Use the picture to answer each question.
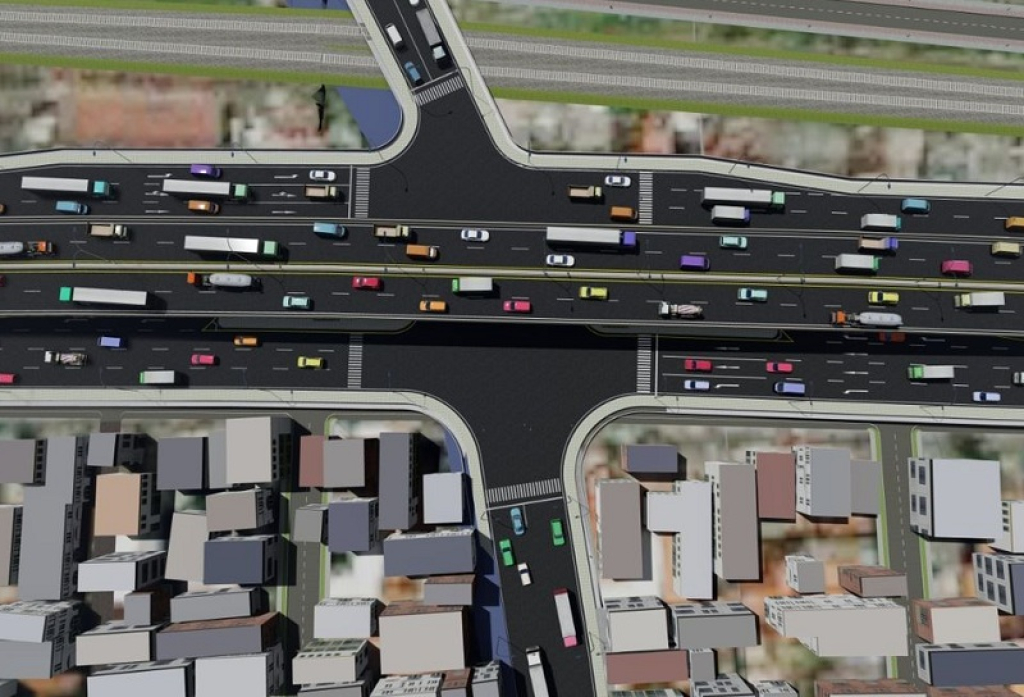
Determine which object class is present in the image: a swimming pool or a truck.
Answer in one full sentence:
Looking from above, you can make out a truck.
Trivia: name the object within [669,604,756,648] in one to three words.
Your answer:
building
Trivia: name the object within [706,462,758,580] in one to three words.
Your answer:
building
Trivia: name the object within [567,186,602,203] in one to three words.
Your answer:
vehicle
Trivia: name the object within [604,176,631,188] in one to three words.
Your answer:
vehicle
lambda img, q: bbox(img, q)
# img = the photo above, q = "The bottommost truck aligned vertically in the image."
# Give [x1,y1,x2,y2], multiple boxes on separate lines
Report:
[526,642,550,697]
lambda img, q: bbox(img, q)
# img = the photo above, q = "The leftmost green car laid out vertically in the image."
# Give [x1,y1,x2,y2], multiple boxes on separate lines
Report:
[500,537,514,565]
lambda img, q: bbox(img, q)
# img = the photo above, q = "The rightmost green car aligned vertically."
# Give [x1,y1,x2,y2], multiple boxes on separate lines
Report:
[550,517,564,545]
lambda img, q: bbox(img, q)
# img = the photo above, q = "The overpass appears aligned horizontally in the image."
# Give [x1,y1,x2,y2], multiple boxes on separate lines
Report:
[0,215,1024,338]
